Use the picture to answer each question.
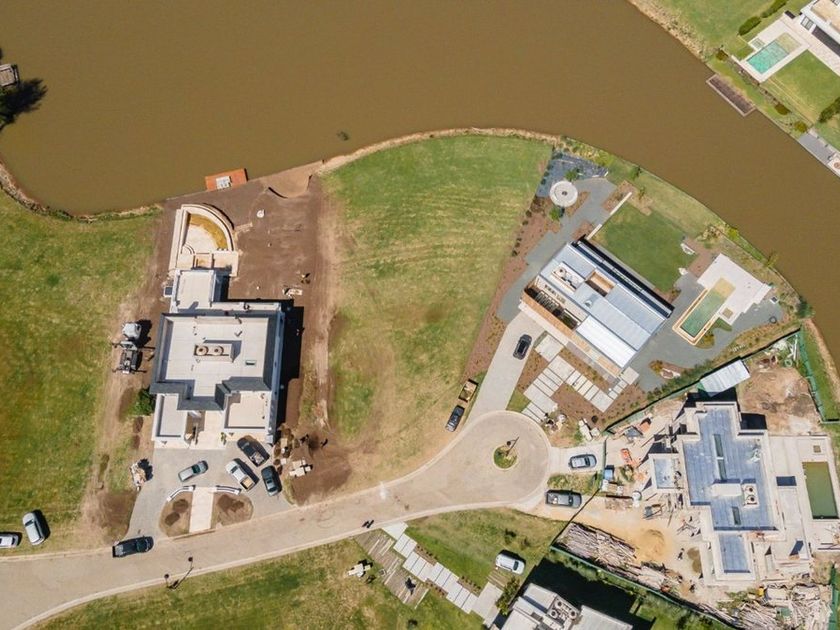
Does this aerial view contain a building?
Yes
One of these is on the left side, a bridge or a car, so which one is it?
car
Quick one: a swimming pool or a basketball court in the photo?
swimming pool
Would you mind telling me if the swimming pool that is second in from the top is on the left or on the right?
left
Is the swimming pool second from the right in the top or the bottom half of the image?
top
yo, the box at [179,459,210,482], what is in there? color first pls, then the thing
gray car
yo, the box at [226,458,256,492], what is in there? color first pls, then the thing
white truck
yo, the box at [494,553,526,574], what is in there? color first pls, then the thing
white car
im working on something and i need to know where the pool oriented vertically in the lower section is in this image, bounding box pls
[802,462,836,518]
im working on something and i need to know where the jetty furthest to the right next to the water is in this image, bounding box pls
[206,168,248,190]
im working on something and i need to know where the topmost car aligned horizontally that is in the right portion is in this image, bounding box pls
[567,454,597,469]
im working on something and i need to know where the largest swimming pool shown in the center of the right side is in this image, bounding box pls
[673,253,771,340]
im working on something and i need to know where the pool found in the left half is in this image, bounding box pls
[170,203,240,278]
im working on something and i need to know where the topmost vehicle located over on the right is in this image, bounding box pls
[514,333,532,361]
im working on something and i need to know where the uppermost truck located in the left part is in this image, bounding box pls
[112,320,155,373]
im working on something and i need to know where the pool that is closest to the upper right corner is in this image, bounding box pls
[741,16,809,81]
